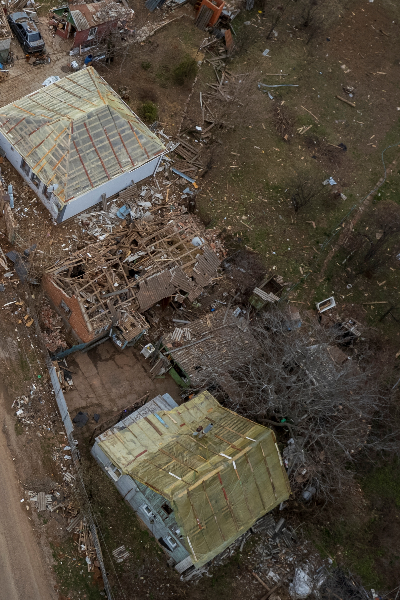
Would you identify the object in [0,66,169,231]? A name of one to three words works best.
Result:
house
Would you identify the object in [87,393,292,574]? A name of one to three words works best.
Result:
house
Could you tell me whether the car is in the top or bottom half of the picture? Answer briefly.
top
